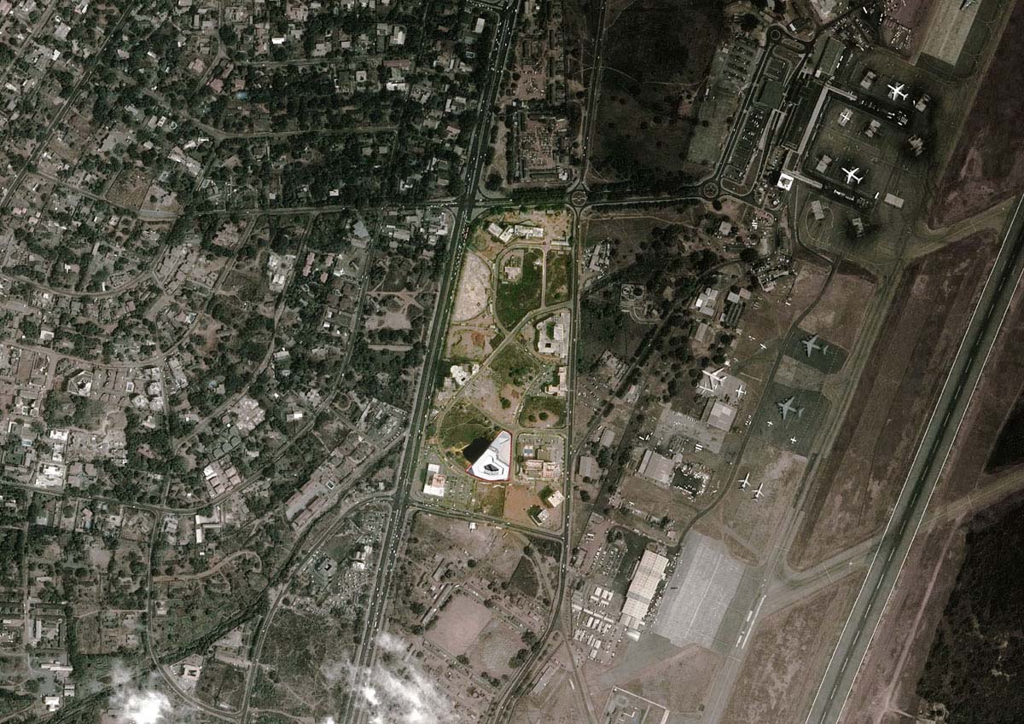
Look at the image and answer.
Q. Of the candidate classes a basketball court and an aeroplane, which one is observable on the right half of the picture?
aeroplane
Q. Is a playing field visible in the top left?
No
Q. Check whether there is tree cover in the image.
Yes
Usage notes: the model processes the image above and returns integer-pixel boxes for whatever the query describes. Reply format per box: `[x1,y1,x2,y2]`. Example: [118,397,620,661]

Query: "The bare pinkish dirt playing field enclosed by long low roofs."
[425,595,492,655]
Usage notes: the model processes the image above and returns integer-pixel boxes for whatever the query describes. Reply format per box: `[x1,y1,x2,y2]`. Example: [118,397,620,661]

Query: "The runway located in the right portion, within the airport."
[805,191,1024,724]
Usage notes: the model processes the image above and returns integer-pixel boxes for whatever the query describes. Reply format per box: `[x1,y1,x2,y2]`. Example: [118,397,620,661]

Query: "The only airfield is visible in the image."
[601,0,1024,724]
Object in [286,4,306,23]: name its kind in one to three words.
house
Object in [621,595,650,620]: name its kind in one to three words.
hangar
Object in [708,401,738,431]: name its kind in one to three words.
hangar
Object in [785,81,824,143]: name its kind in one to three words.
building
